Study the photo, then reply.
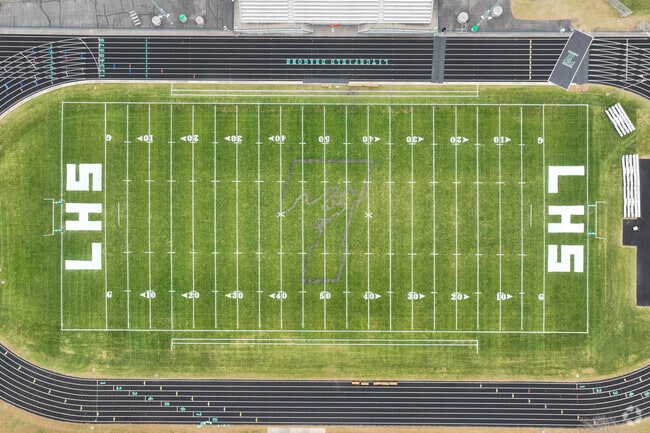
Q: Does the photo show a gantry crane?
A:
No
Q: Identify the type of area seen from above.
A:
sports ground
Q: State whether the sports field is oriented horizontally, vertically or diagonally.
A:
horizontally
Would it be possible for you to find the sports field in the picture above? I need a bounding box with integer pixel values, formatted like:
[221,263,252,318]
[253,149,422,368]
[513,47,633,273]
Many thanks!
[61,83,588,354]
